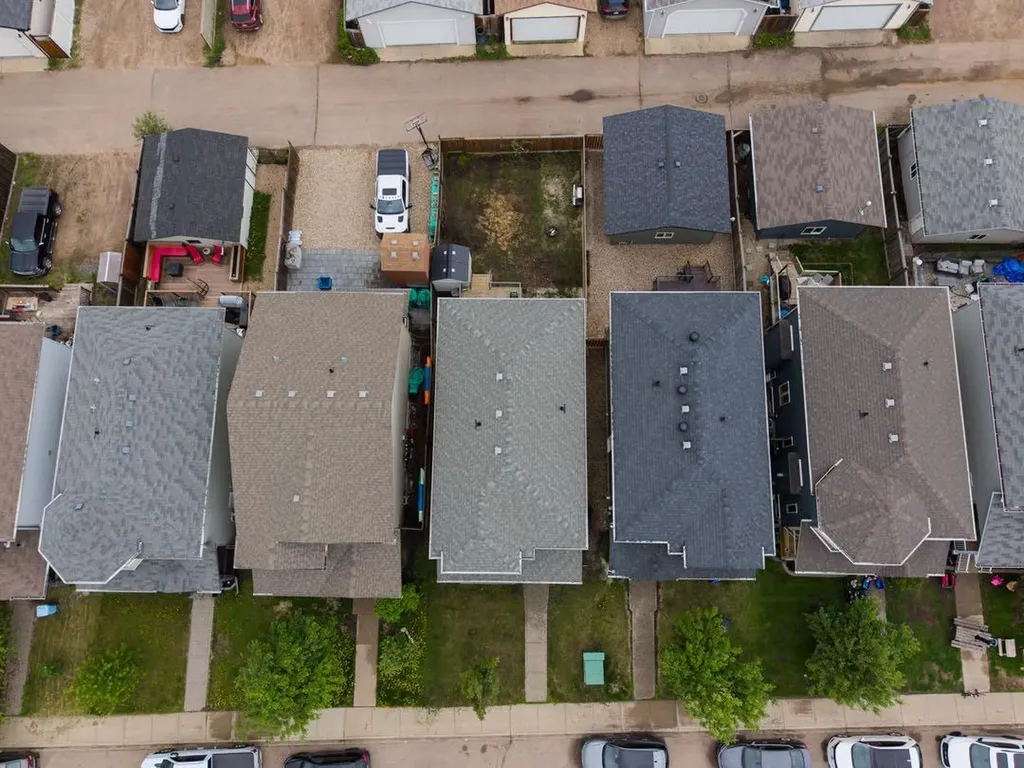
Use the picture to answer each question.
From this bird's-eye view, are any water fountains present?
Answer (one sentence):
No, there appears to be no water fountain in this shot.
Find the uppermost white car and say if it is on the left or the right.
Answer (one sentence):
You can find the uppermost white car on the left side of the picture.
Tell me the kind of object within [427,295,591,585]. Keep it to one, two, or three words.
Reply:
house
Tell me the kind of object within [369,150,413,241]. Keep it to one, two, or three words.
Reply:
truck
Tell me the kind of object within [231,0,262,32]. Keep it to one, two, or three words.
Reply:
car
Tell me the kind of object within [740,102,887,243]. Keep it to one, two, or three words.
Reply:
building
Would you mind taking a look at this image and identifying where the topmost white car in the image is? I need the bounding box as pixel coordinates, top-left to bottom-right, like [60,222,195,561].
[148,0,185,33]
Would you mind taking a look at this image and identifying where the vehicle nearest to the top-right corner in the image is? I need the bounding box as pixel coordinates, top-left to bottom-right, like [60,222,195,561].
[600,0,628,20]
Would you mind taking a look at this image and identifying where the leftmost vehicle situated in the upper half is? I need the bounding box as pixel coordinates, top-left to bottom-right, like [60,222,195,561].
[3,190,62,280]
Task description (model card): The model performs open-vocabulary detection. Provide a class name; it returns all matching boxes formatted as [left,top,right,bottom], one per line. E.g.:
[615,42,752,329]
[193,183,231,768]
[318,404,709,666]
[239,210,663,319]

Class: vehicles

[148,0,185,33]
[231,0,262,32]
[939,730,1024,768]
[600,0,628,20]
[285,748,370,768]
[715,737,807,768]
[825,731,918,768]
[3,190,62,280]
[0,747,46,768]
[369,150,413,241]
[583,734,666,768]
